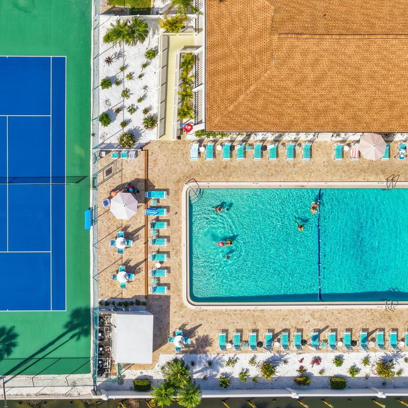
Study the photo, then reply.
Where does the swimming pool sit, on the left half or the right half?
right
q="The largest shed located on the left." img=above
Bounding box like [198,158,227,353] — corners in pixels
[102,309,153,363]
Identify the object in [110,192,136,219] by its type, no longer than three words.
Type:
umbrella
